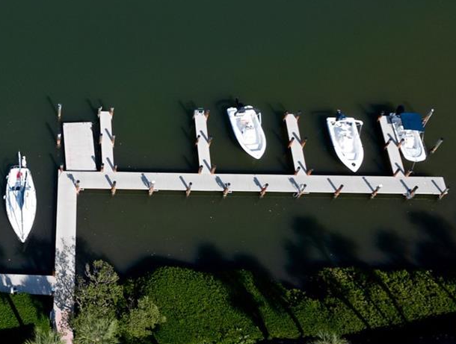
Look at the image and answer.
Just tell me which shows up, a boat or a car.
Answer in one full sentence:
There is a boat in the scene.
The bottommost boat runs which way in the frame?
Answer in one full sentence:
The bottommost boat runs from top to bottom in the image.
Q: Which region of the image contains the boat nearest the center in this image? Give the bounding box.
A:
[227,98,264,161]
